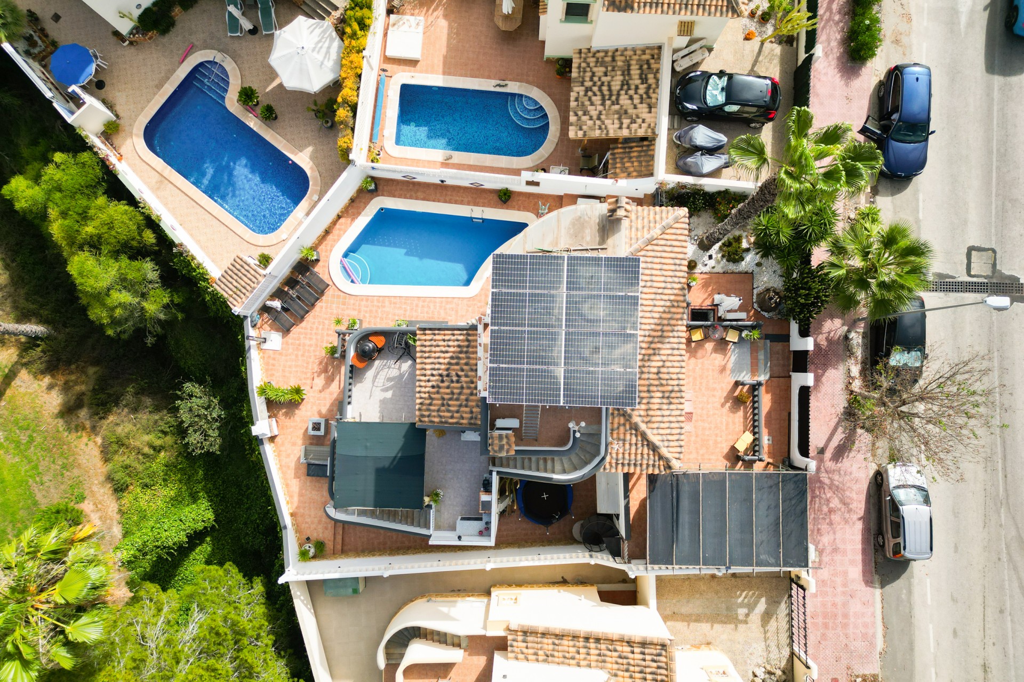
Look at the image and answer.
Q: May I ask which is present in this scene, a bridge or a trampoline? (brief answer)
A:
trampoline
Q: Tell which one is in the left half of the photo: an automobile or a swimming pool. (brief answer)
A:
swimming pool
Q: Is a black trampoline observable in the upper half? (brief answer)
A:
No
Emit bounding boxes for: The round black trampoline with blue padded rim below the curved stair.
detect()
[517,482,574,537]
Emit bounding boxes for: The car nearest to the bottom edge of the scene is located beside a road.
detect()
[875,460,939,565]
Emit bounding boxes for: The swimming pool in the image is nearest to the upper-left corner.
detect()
[130,47,319,244]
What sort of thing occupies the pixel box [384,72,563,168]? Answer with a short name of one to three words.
swimming pool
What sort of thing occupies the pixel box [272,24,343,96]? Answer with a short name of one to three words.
umbrella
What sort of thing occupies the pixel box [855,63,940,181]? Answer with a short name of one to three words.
car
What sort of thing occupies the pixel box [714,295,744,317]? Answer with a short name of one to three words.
umbrella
